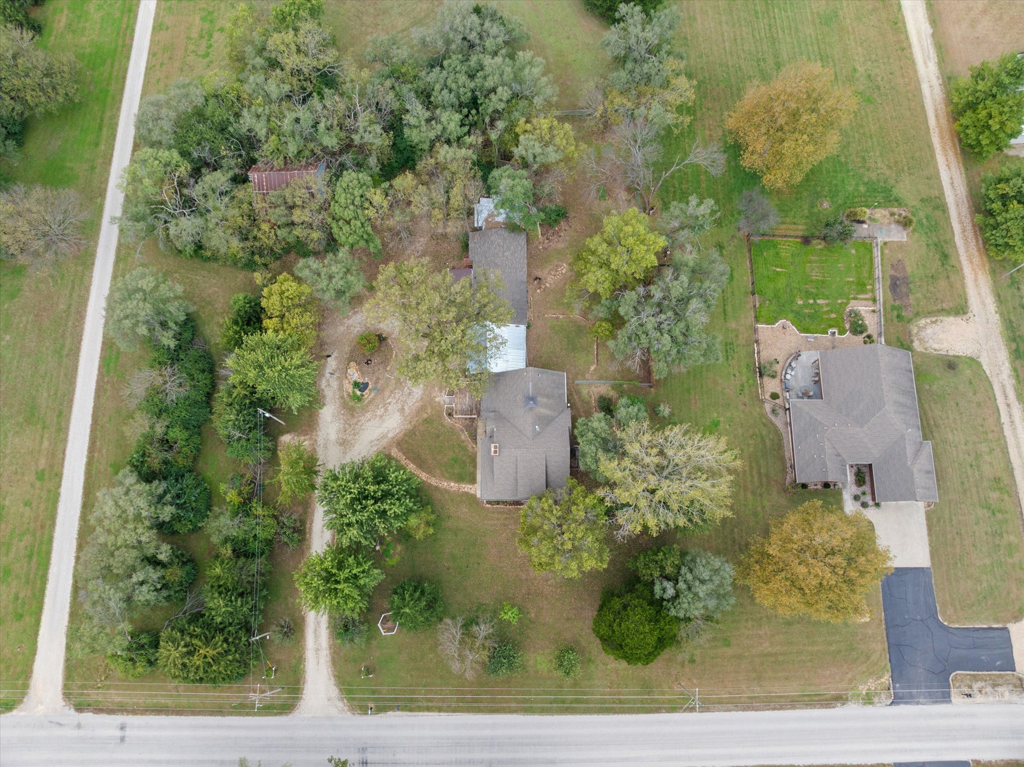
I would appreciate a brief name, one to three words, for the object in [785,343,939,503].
house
